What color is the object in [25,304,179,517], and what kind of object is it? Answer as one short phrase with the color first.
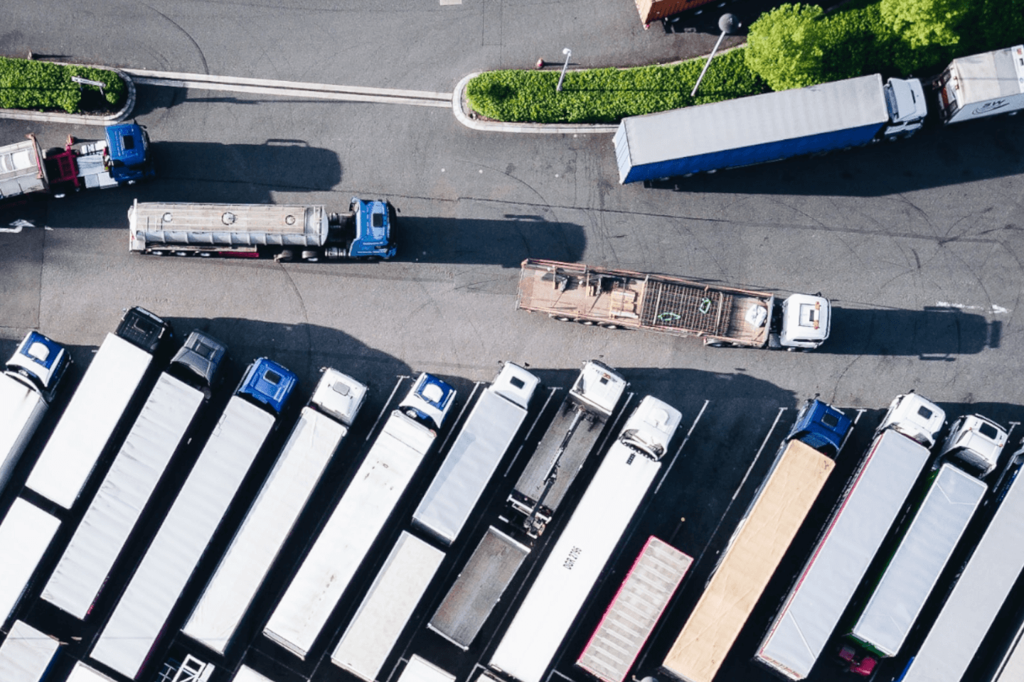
white truck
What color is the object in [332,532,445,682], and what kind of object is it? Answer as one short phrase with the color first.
white trailer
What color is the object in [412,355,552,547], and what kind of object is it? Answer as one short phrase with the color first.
white truck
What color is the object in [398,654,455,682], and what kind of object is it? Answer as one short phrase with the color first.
white trailer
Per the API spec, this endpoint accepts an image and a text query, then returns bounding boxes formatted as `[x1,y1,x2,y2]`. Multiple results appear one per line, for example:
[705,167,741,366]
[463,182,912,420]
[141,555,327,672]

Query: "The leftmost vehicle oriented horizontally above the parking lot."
[0,120,160,198]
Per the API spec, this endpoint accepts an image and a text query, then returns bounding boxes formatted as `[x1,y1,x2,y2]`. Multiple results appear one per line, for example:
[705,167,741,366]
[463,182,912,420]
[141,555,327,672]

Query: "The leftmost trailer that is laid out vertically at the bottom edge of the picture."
[0,499,73,651]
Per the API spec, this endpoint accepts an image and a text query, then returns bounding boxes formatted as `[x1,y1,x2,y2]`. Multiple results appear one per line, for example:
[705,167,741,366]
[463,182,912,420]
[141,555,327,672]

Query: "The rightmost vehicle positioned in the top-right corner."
[925,45,1024,126]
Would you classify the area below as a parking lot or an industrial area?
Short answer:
parking lot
